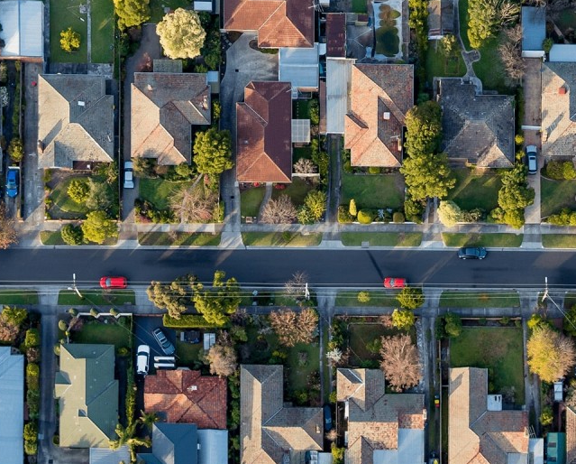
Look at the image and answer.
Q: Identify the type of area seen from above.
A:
residential area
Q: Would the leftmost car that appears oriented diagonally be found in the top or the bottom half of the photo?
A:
bottom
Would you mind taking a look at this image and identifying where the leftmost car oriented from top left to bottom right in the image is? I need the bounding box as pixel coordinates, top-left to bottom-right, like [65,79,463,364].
[152,326,176,357]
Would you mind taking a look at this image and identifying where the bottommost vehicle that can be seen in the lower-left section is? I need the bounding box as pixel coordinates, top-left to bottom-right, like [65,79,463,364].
[136,345,150,375]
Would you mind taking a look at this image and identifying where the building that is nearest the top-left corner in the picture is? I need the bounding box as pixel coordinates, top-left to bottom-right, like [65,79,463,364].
[0,0,46,60]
